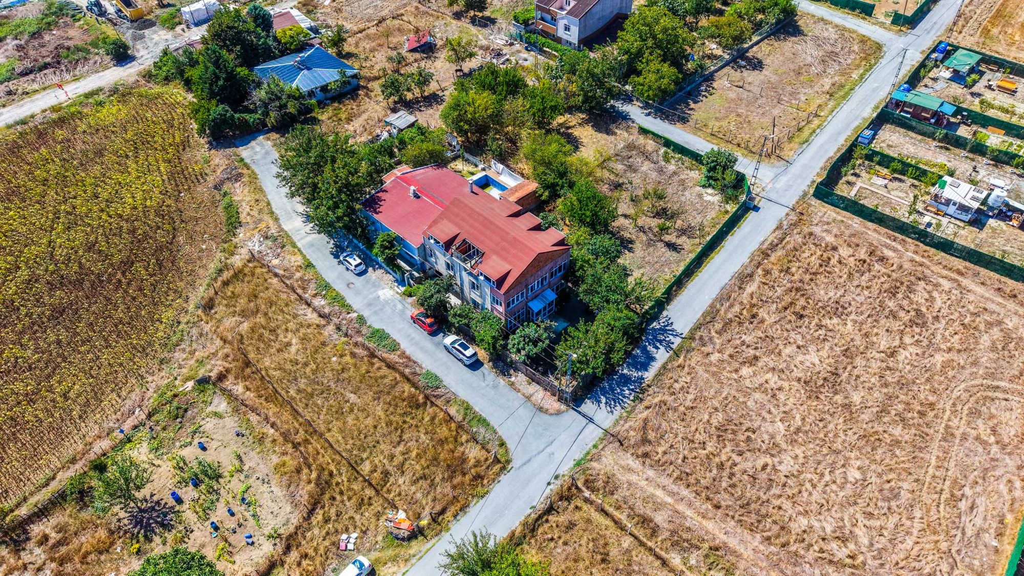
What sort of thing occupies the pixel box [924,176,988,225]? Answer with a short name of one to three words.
building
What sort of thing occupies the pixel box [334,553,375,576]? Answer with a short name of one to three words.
car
